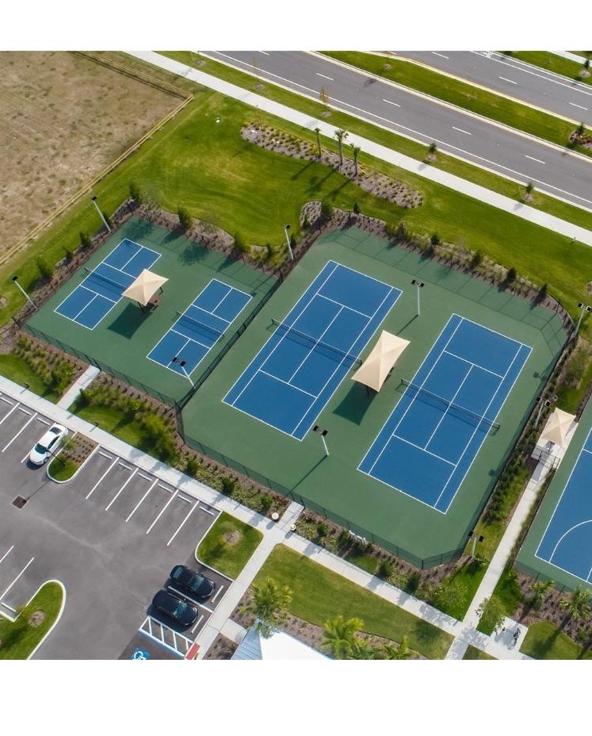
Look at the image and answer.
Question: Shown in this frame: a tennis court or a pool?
tennis court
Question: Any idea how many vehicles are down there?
3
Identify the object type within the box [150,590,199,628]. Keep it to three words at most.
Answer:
car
